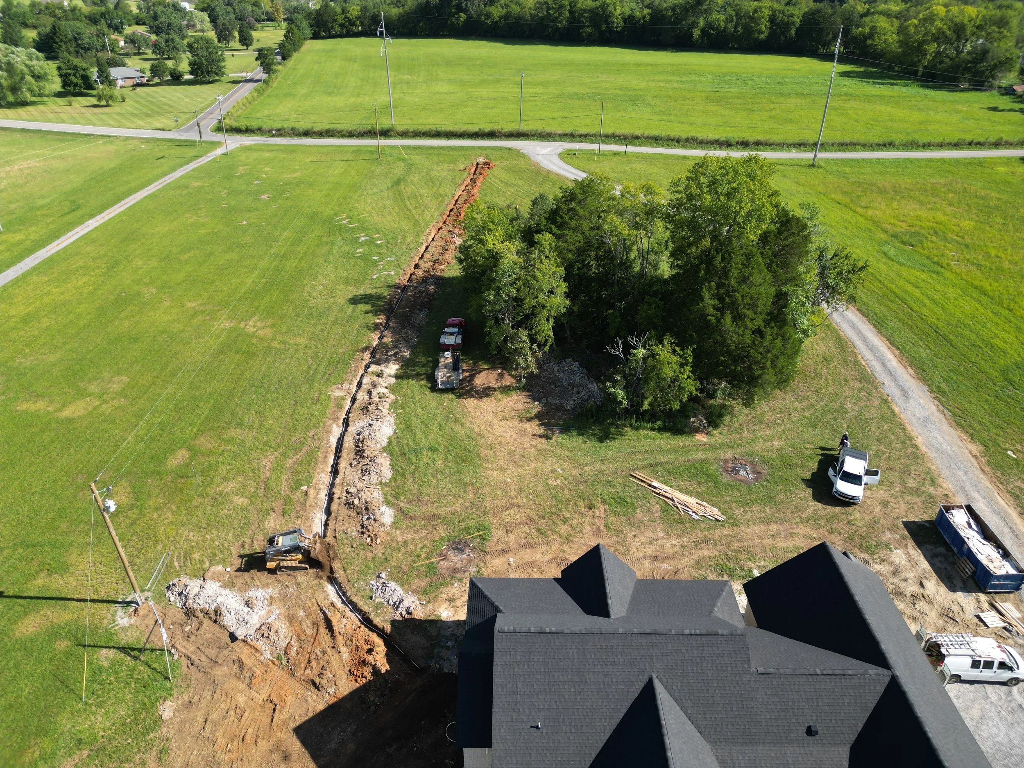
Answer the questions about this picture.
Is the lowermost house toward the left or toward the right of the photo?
right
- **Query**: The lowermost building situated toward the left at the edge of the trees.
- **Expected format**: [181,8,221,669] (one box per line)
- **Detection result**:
[85,64,149,88]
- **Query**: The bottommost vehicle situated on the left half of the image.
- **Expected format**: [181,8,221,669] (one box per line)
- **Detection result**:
[263,529,333,573]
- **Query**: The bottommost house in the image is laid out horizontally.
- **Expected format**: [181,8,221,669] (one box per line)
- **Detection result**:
[458,540,990,768]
